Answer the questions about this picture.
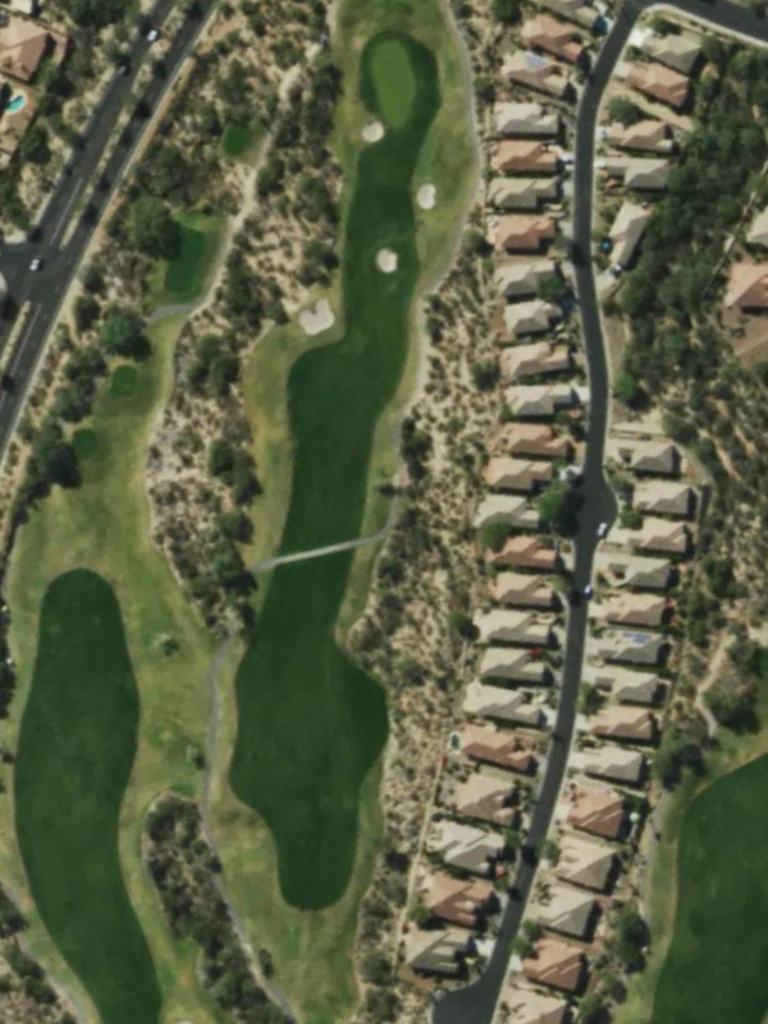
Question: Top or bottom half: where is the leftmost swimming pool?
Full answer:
You can find the leftmost swimming pool in the top half.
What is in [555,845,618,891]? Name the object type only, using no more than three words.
house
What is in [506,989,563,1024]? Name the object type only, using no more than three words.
house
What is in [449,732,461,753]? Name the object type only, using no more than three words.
swimming pool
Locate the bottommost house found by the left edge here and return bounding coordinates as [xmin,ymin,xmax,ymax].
[0,16,49,80]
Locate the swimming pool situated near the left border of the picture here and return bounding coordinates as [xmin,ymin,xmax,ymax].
[6,92,27,113]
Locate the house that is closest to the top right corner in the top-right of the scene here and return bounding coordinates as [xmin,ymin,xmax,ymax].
[648,28,705,78]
